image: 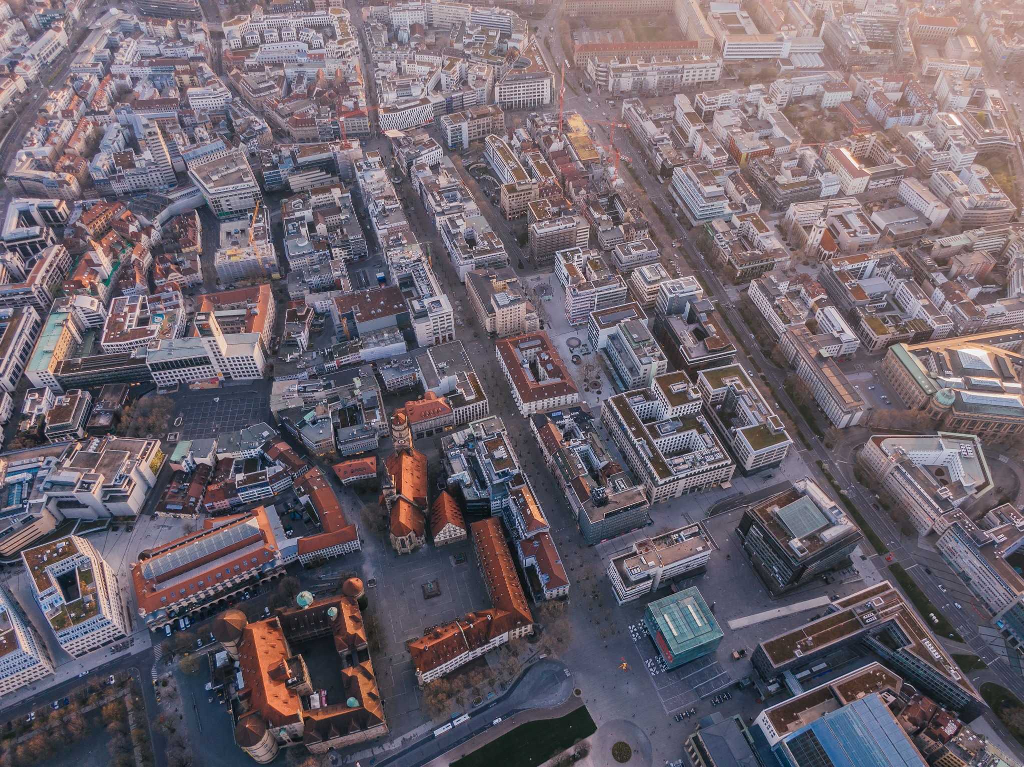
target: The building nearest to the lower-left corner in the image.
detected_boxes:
[0,589,56,695]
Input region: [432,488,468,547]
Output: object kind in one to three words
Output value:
house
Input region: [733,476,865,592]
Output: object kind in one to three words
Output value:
building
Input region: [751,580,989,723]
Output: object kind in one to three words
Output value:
building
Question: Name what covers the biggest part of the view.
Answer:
buildings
